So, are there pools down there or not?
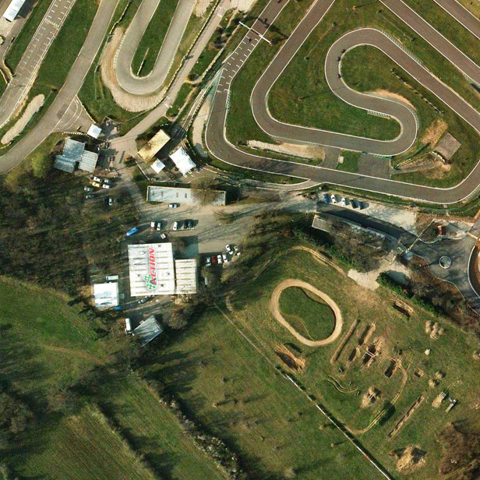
No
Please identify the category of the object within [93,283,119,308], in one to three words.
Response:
shed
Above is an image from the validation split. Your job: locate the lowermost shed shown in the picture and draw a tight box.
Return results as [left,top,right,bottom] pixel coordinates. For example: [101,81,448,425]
[133,316,162,341]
